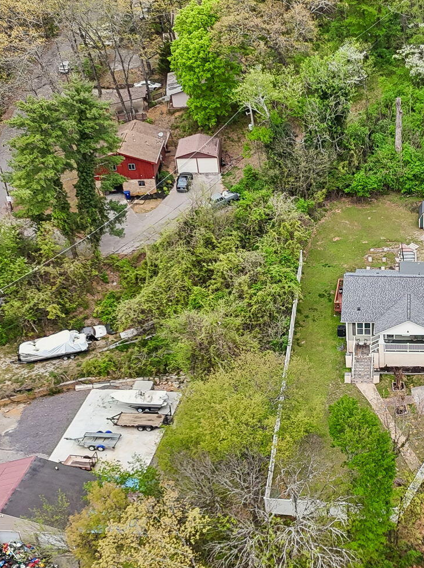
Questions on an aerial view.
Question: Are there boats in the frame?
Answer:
Yes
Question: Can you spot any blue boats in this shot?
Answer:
No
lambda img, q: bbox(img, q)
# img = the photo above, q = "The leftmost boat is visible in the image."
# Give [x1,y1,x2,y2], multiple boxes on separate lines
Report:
[16,329,95,362]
